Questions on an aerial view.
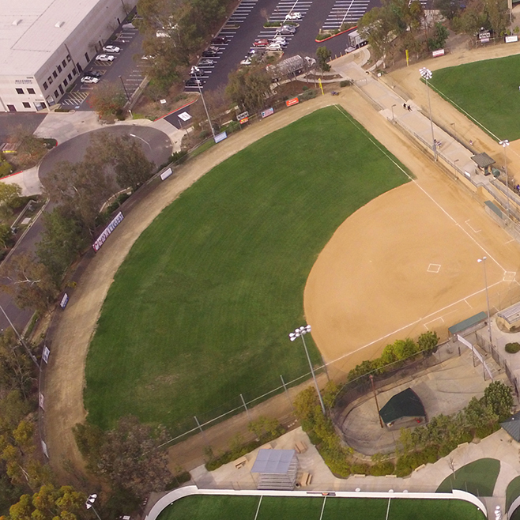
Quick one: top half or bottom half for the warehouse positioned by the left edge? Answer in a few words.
top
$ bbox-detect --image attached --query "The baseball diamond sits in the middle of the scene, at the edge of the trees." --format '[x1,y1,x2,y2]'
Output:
[85,104,520,451]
